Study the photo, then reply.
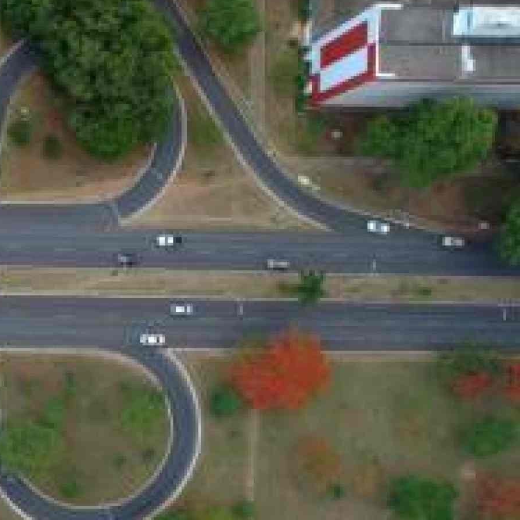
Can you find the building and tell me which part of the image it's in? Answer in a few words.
top right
